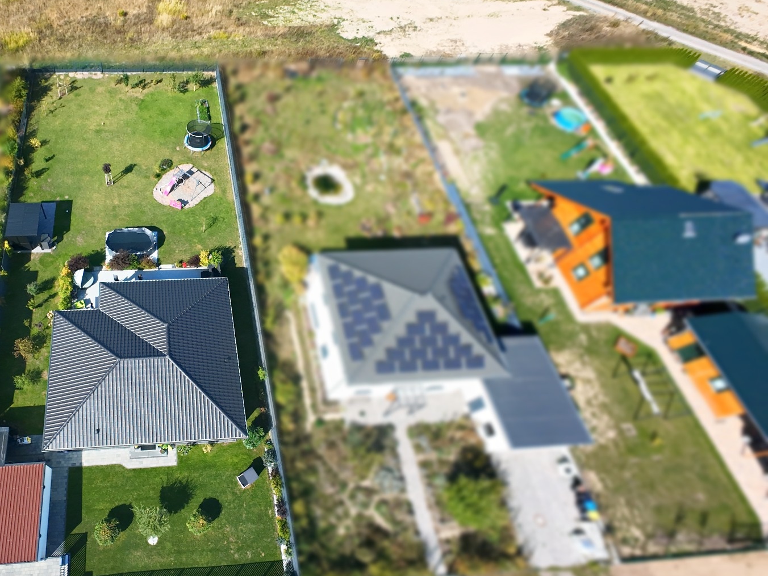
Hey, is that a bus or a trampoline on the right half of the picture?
trampoline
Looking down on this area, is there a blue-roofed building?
Yes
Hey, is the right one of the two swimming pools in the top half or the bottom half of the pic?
top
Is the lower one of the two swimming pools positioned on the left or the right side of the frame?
left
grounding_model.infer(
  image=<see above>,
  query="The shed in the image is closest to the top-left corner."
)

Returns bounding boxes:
[2,202,44,244]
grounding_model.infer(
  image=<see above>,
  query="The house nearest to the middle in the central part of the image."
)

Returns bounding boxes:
[302,247,510,399]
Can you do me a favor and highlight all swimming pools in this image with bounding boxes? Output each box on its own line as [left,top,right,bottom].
[106,226,157,259]
[553,108,590,134]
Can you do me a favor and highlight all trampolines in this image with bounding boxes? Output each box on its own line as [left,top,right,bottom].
[182,119,214,157]
[520,75,561,108]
